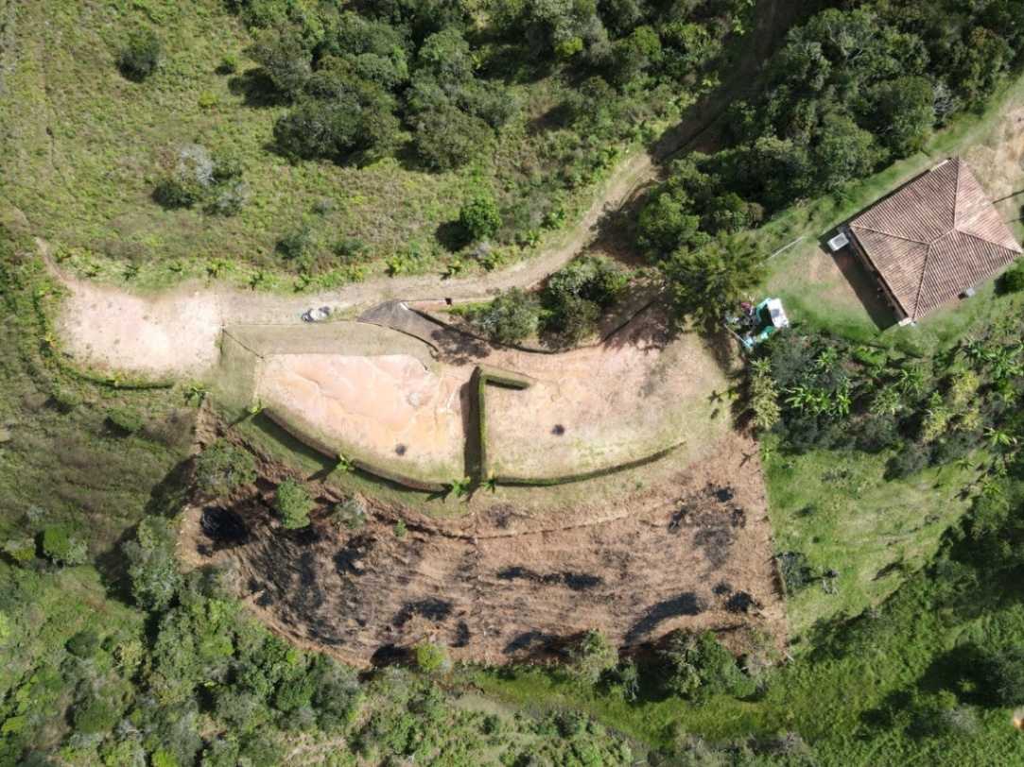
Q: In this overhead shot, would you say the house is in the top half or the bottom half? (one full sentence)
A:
Seen from above, the house lies in the top half of the view.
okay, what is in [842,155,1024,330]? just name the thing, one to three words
house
